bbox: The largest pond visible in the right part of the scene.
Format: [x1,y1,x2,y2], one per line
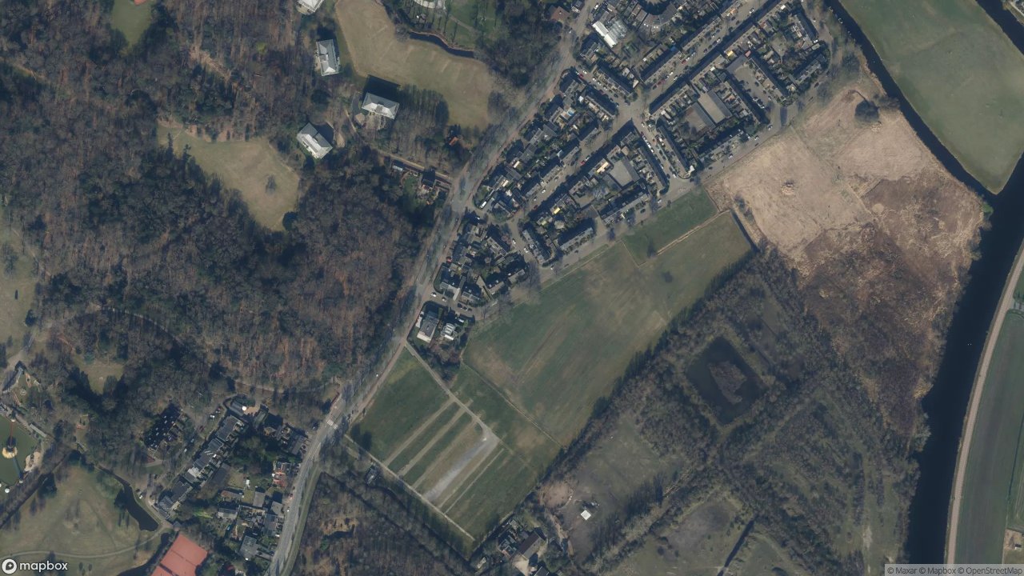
[687,338,766,424]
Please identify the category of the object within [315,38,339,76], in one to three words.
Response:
building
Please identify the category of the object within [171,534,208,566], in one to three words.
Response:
tennis court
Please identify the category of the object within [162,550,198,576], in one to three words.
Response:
tennis court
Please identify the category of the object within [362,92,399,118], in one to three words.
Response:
building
